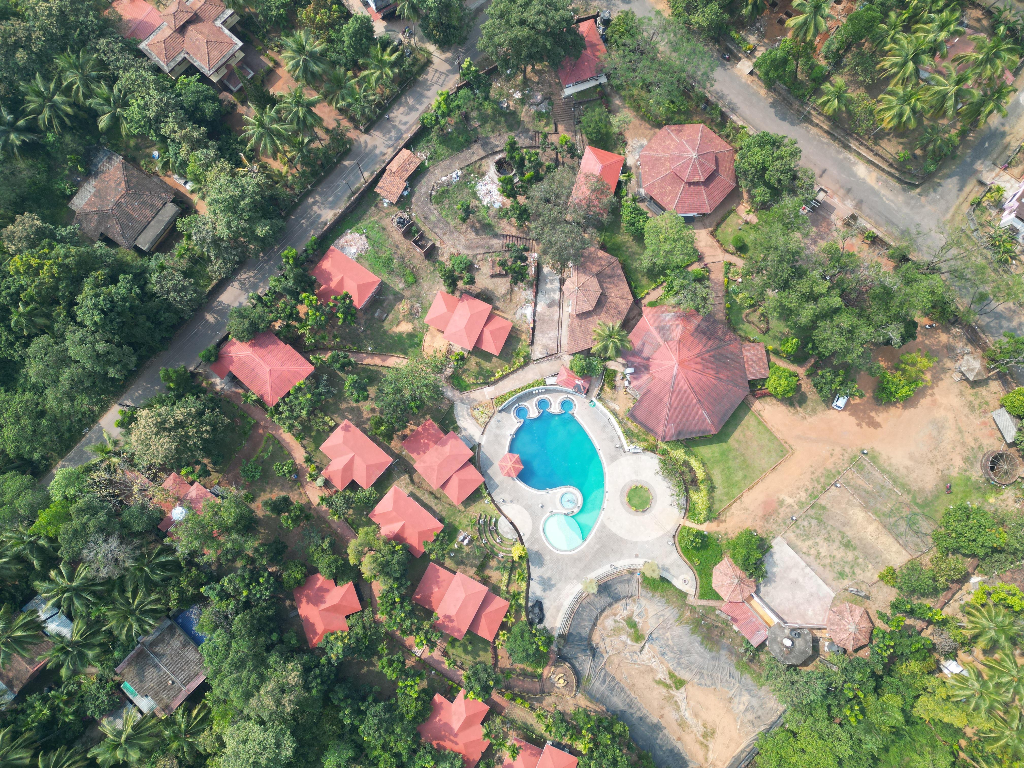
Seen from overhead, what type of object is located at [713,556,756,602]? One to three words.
gazebo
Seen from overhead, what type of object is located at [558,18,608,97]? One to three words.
building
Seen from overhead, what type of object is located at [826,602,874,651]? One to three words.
gazebo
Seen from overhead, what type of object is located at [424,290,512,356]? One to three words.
house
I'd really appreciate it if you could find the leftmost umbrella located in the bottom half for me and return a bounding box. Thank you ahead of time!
[499,453,522,478]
